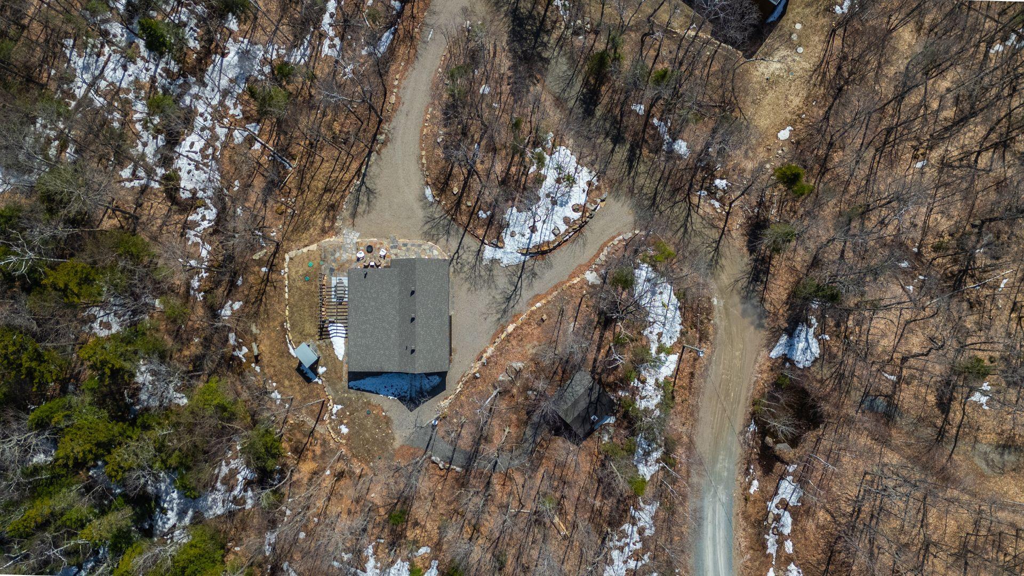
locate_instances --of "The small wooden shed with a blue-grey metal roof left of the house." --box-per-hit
[294,342,323,367]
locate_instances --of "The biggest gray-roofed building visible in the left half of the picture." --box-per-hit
[347,257,450,377]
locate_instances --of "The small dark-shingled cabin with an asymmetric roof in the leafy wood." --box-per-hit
[546,370,614,436]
